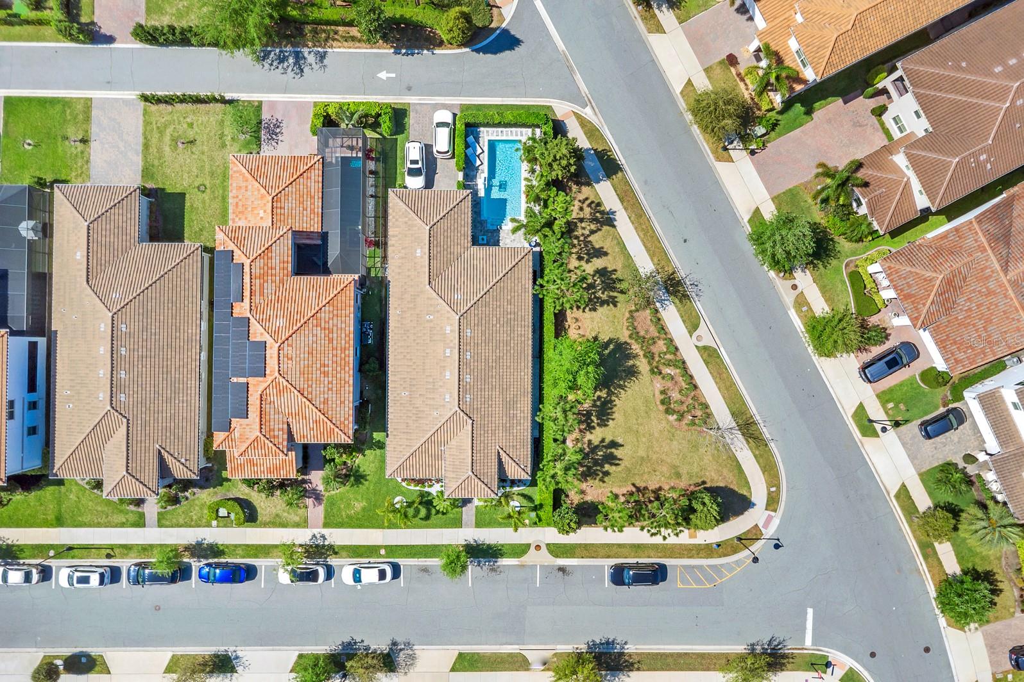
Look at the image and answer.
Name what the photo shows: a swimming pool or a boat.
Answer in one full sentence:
It is a swimming pool that can be seen here.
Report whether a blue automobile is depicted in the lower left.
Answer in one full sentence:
Yes, a blue automobile can be seen in the lower left.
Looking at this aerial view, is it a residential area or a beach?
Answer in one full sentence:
This looks like a residential area.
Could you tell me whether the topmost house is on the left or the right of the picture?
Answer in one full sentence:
The topmost house is on the right side of the image.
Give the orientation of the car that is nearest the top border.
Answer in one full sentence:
The car that is nearest the top border has been laid out from top to bottom relative to the frame.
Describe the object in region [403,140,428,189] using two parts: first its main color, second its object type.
white car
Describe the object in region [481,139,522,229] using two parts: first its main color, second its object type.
blue swimming pool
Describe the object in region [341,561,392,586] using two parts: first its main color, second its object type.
white car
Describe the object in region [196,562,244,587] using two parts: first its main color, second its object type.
blue car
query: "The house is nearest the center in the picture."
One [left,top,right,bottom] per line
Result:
[386,188,534,499]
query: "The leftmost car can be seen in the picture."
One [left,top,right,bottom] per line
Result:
[0,561,40,586]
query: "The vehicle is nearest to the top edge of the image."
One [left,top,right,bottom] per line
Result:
[431,109,456,160]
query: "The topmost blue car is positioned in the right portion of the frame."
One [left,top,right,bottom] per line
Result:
[860,345,916,383]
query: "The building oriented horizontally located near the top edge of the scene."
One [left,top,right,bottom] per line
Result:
[740,0,976,100]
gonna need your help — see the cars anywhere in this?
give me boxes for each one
[196,562,244,587]
[56,562,107,587]
[126,563,179,588]
[0,561,40,586]
[403,140,428,189]
[341,561,392,586]
[860,345,916,383]
[609,562,659,587]
[431,109,456,160]
[916,408,965,440]
[276,561,326,586]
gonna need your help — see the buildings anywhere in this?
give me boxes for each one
[962,355,1024,517]
[51,183,210,499]
[0,329,47,484]
[386,188,534,499]
[861,185,1024,377]
[850,0,1024,233]
[212,153,363,478]
[740,0,976,100]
